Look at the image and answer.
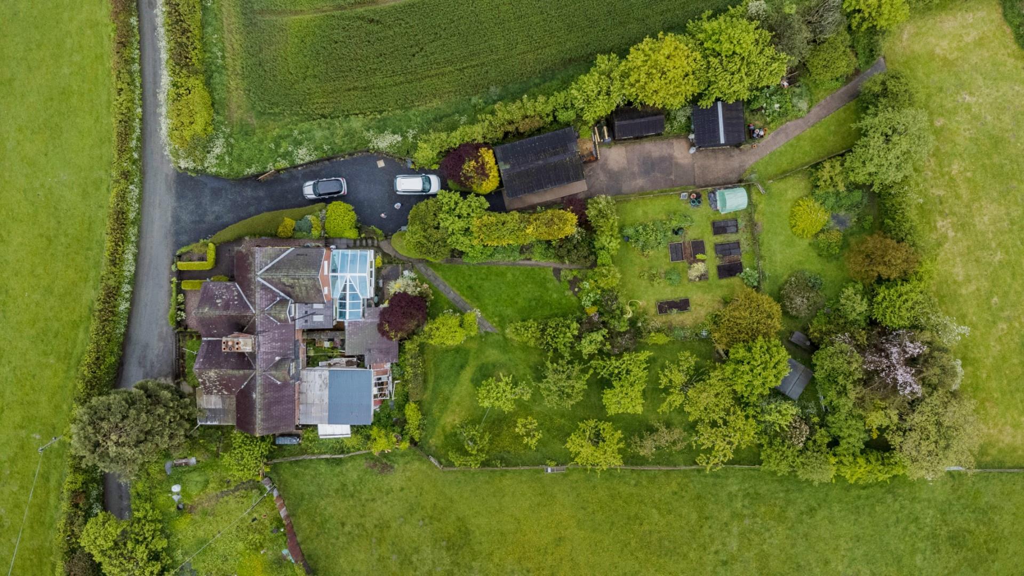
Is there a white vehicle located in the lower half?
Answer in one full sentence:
No, I see no white vehicle in the lower half.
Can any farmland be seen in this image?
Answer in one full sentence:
Yes, there's farmland in this view.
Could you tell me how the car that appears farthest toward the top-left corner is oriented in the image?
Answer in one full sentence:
What the image shows is the car that appears farthest toward the top-left corner lying from left to right.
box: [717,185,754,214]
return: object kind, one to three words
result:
greenhouse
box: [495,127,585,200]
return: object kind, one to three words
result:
building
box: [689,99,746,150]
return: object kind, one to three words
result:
shed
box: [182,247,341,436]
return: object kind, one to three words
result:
house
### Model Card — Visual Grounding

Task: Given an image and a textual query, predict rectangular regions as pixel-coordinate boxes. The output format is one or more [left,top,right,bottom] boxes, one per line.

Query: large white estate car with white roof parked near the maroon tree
[395,173,441,195]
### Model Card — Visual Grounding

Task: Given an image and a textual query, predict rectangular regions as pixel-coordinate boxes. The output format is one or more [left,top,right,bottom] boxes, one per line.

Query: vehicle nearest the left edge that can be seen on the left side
[304,177,349,200]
